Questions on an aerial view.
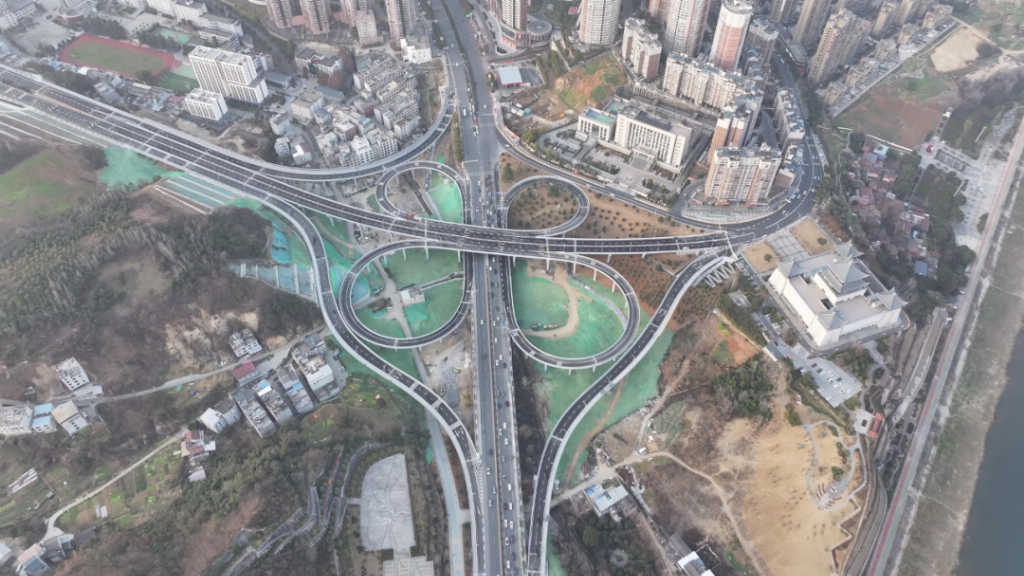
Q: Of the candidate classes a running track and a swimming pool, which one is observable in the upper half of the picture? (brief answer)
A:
running track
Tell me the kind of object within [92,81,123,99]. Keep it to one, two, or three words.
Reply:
shed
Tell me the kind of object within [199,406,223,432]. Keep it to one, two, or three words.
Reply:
house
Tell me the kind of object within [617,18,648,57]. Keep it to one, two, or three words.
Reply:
building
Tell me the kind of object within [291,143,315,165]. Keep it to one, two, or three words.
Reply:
house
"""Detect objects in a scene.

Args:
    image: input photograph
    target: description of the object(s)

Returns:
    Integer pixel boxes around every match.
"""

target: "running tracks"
[59,32,180,78]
